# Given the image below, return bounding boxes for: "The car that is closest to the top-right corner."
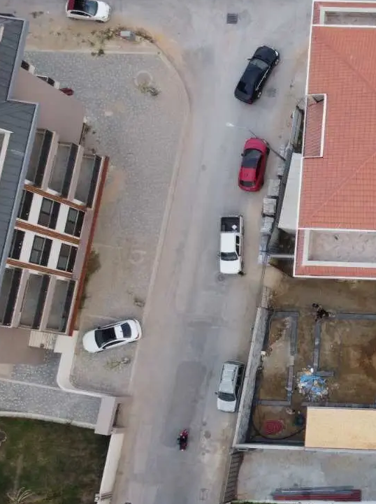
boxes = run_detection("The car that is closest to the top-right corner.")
[234,46,280,102]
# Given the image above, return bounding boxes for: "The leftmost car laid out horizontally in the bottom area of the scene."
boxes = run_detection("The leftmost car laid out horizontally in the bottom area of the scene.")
[83,319,143,350]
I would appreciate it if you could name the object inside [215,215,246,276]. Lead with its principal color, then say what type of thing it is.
white truck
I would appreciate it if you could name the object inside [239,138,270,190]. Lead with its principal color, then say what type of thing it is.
red car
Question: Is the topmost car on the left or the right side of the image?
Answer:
left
